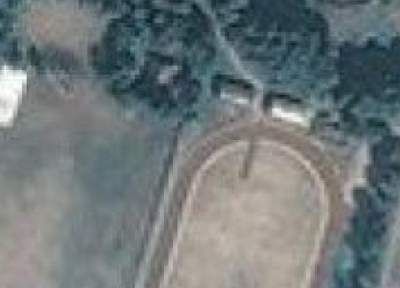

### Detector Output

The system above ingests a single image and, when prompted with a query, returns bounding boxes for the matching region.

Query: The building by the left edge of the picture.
[0,68,29,127]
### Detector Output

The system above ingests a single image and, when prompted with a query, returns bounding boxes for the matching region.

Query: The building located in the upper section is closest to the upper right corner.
[270,91,317,125]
